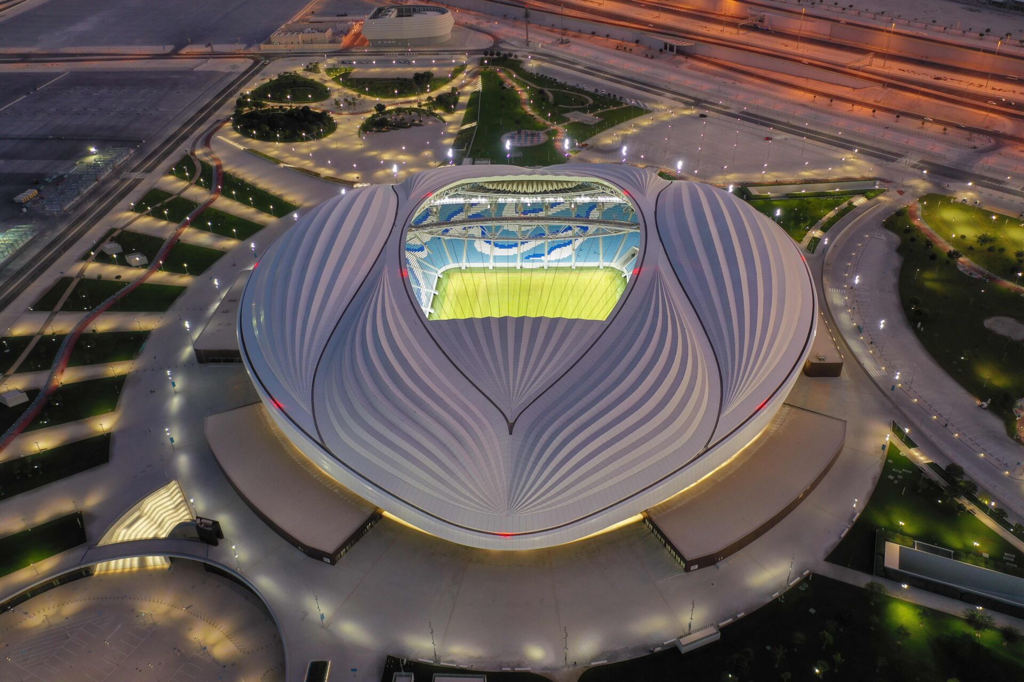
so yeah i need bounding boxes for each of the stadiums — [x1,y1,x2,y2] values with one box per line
[237,160,819,550]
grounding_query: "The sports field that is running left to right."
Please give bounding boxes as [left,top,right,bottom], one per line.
[441,275,614,328]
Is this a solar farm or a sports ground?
sports ground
